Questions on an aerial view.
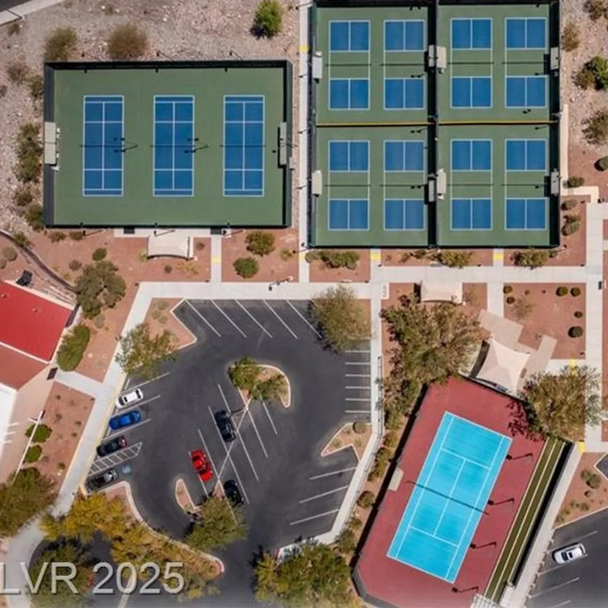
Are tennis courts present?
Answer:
Yes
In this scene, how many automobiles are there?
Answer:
8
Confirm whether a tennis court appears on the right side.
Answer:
Yes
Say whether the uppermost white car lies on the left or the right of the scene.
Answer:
left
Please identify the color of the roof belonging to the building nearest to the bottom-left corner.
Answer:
red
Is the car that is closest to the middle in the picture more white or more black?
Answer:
black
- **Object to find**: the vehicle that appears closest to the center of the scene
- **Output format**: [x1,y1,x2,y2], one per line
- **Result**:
[214,408,237,442]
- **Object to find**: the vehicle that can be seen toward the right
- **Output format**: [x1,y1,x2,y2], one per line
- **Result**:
[553,543,587,565]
